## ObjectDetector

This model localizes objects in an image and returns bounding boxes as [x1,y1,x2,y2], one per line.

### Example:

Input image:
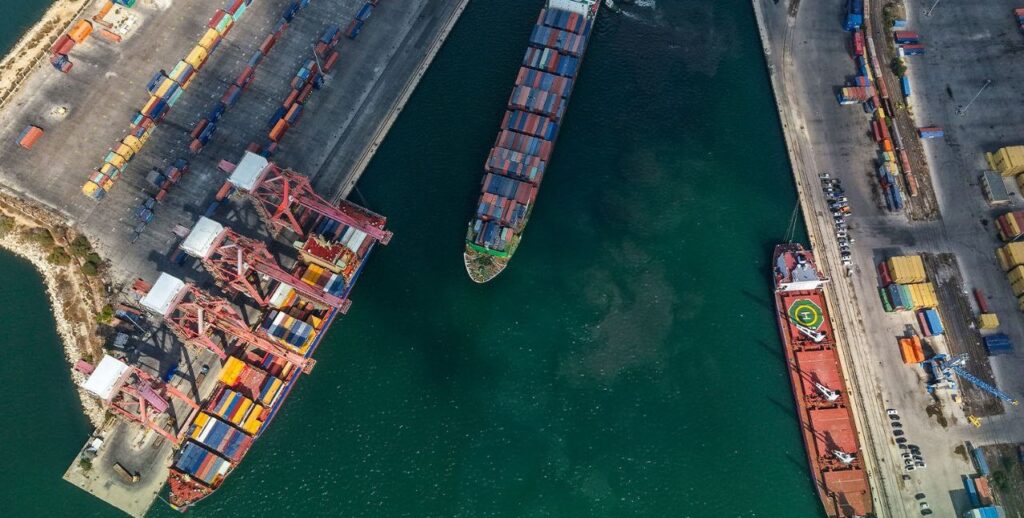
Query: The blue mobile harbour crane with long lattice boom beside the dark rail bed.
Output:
[921,353,1019,408]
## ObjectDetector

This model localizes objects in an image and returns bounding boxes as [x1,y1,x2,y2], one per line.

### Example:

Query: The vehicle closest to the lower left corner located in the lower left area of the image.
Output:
[112,462,136,483]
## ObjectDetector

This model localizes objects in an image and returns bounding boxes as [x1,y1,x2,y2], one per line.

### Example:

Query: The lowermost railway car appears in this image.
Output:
[904,172,919,197]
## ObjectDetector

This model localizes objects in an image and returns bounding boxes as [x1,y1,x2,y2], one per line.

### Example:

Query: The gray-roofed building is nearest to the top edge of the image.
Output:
[975,172,1010,207]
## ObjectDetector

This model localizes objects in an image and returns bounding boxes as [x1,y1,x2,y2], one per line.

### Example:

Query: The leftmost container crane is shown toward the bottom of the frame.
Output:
[72,353,202,443]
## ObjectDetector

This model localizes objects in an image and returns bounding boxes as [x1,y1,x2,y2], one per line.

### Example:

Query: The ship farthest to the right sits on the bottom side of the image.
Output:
[767,241,875,518]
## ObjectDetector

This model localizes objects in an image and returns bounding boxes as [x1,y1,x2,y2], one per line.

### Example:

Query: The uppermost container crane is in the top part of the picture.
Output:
[218,149,396,243]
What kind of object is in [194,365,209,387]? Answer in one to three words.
vehicle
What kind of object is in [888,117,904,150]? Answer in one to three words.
rail car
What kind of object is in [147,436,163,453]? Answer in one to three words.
vehicle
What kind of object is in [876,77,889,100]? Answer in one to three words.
rail car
